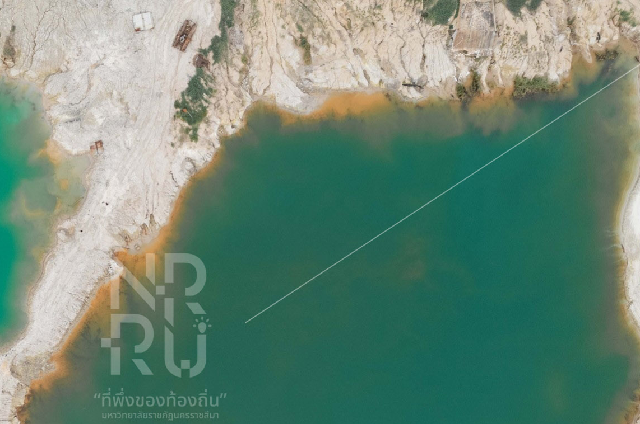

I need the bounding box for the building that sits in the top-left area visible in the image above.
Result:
[132,10,155,31]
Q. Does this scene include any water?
Yes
